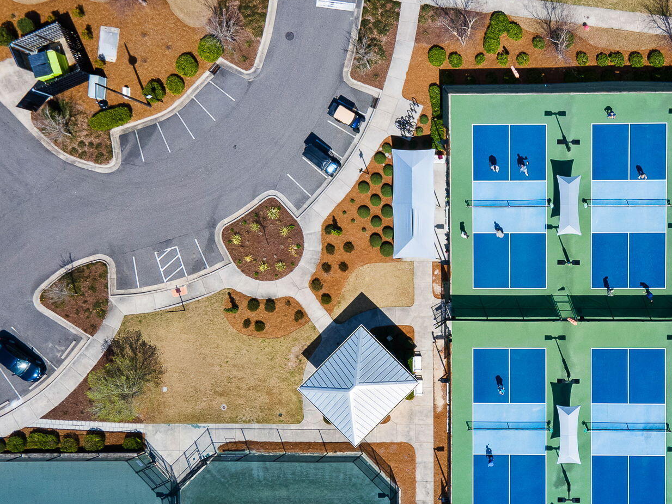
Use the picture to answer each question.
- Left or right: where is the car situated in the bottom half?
left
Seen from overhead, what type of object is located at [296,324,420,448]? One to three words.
building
